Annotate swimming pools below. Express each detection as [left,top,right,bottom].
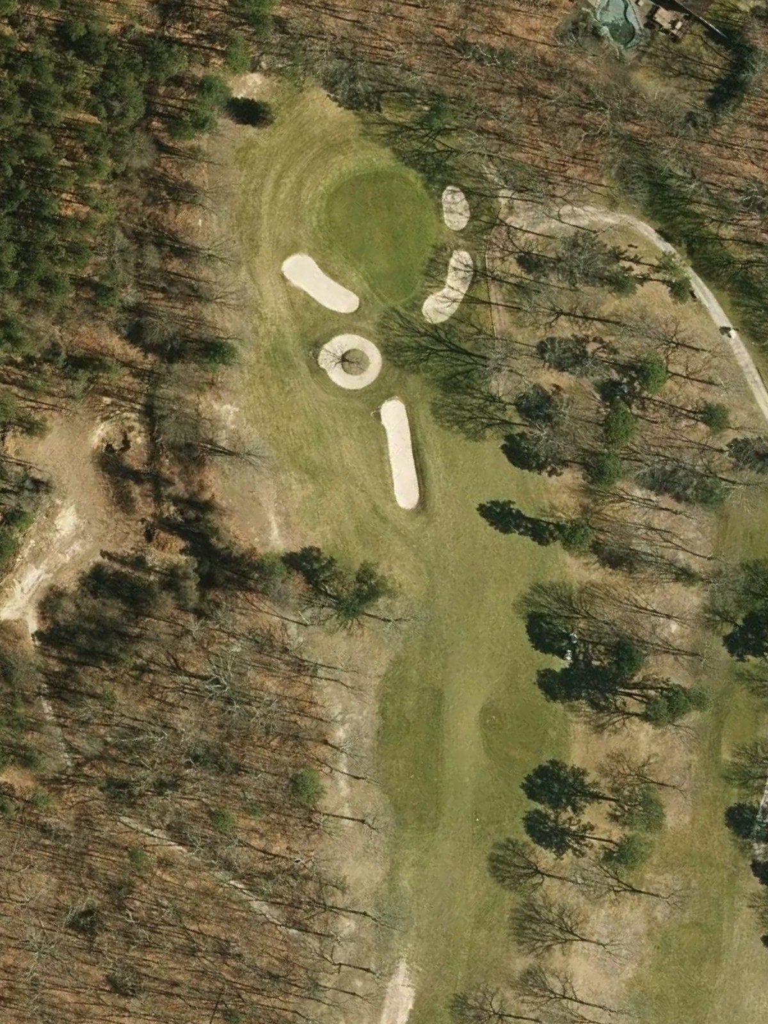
[596,0,642,50]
